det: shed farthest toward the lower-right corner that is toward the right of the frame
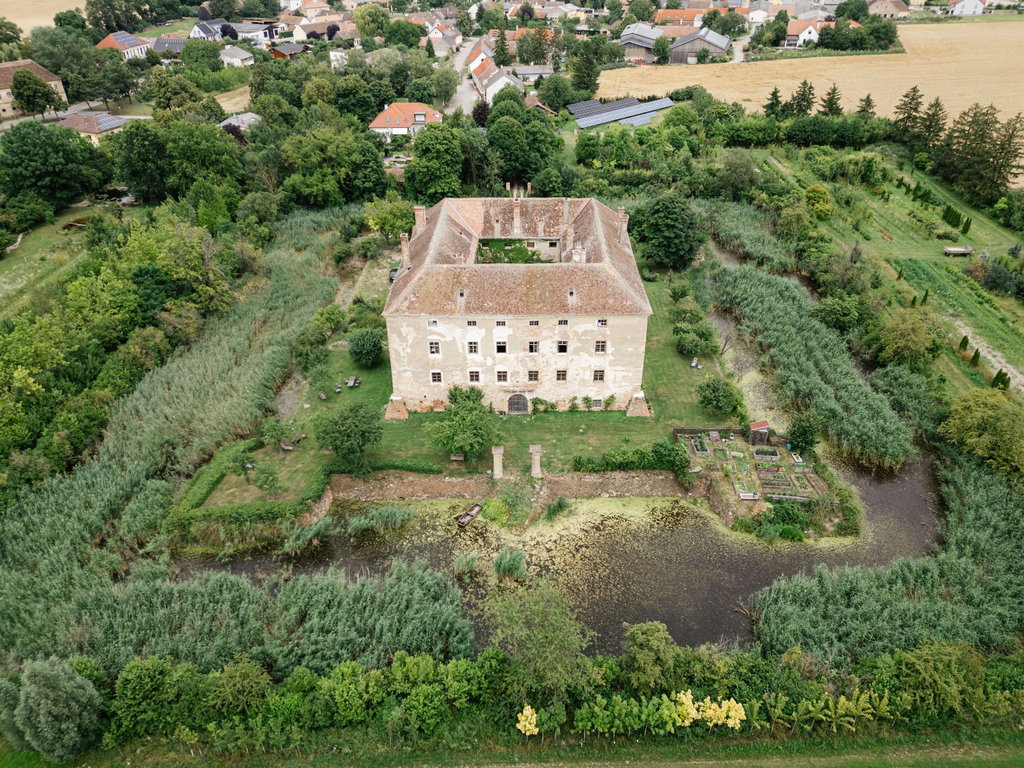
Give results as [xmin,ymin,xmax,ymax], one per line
[750,419,774,447]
